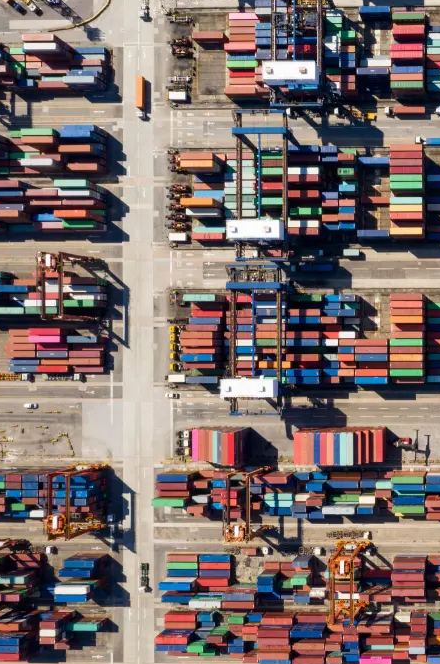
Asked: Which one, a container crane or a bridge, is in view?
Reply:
container crane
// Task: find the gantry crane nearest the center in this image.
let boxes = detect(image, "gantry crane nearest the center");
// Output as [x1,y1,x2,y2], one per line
[221,264,304,417]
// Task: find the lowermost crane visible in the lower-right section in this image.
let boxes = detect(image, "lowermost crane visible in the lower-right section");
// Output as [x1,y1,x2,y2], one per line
[328,539,370,627]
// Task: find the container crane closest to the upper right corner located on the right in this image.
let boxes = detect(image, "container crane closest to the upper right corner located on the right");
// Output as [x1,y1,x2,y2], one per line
[263,0,341,110]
